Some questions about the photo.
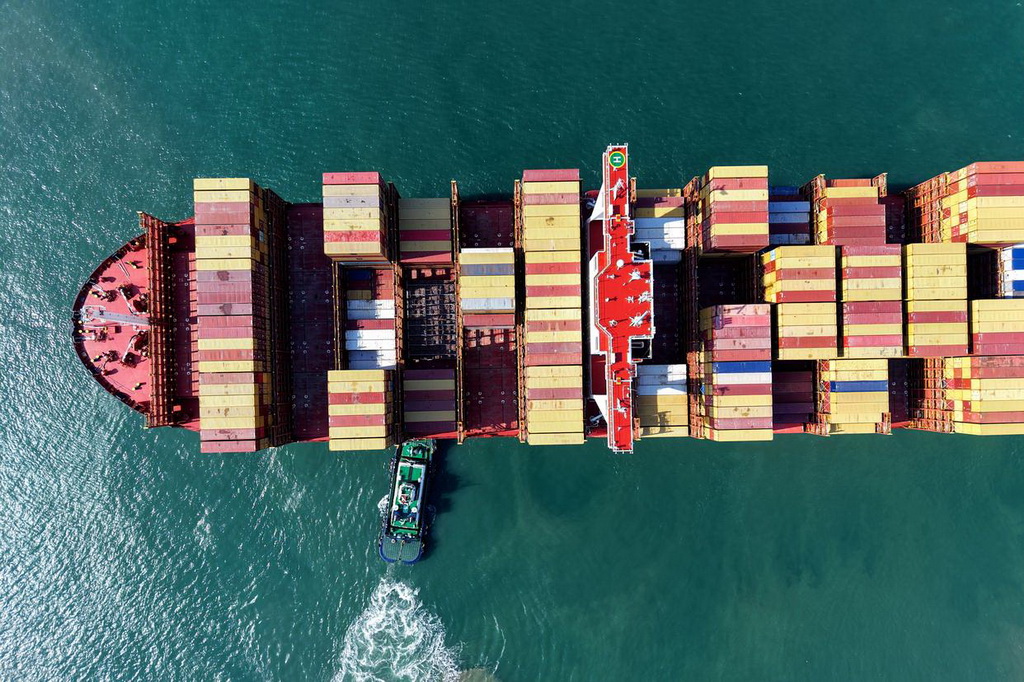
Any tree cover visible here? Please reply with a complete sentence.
No, there is no tree cover in the image.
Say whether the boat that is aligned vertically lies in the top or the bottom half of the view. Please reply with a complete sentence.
You can find the boat that is aligned vertically in the bottom half.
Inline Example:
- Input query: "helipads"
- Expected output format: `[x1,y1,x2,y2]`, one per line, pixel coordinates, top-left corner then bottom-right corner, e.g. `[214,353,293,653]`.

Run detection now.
[609,151,627,170]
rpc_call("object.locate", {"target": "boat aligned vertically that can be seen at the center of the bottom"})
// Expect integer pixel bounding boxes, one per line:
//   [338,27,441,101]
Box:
[379,440,437,564]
